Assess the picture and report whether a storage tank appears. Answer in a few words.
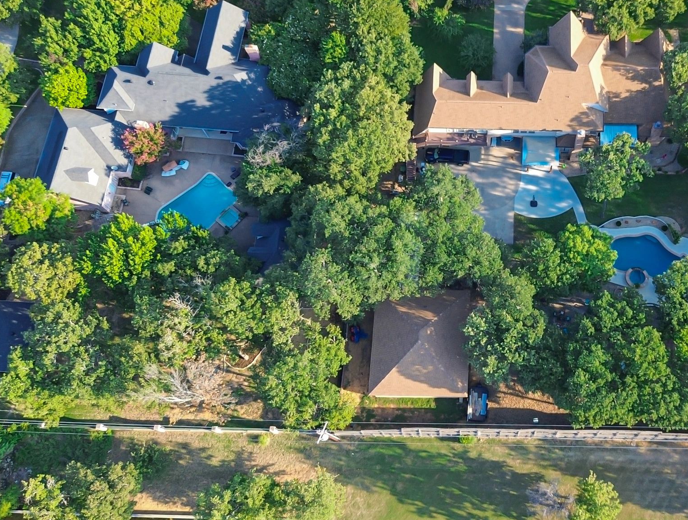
No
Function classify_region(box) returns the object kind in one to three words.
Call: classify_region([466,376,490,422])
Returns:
trailer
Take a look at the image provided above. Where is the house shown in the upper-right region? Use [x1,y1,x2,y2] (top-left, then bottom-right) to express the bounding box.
[412,10,673,171]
